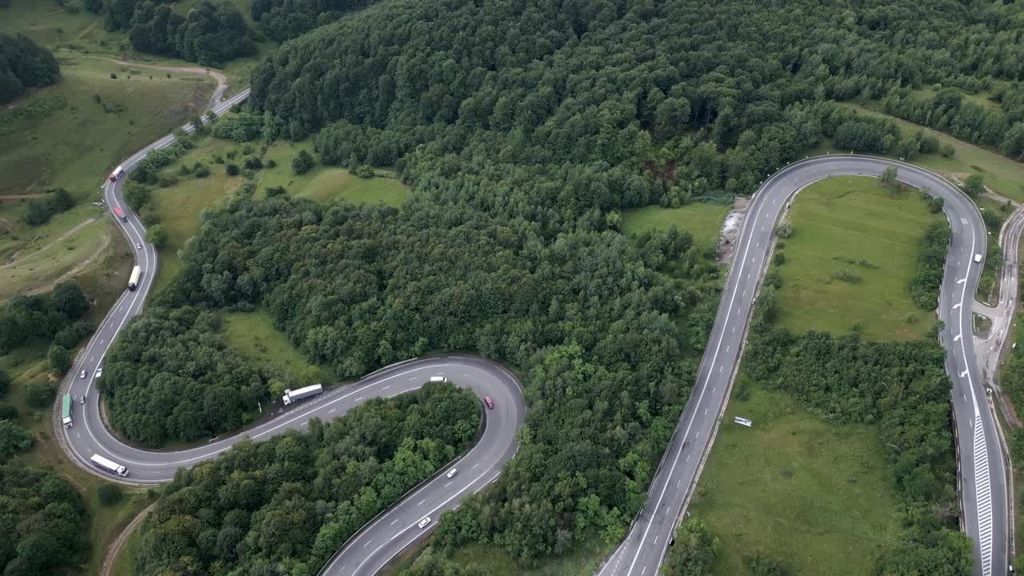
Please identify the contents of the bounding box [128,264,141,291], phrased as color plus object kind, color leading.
white vehicle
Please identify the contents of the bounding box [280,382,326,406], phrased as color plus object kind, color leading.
white truck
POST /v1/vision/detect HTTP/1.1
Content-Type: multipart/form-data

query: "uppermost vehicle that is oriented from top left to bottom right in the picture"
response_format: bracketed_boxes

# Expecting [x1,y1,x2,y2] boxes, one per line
[113,205,128,223]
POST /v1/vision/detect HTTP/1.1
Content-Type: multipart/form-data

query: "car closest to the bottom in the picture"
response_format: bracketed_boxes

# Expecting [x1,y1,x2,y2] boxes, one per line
[416,517,432,530]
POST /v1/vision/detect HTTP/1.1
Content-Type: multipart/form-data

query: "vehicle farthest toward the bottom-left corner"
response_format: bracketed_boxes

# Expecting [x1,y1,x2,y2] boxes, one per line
[86,452,131,477]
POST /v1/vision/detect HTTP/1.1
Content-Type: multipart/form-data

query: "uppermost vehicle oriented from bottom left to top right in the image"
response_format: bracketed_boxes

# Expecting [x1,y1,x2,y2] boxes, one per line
[109,166,125,183]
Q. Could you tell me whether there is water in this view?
No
